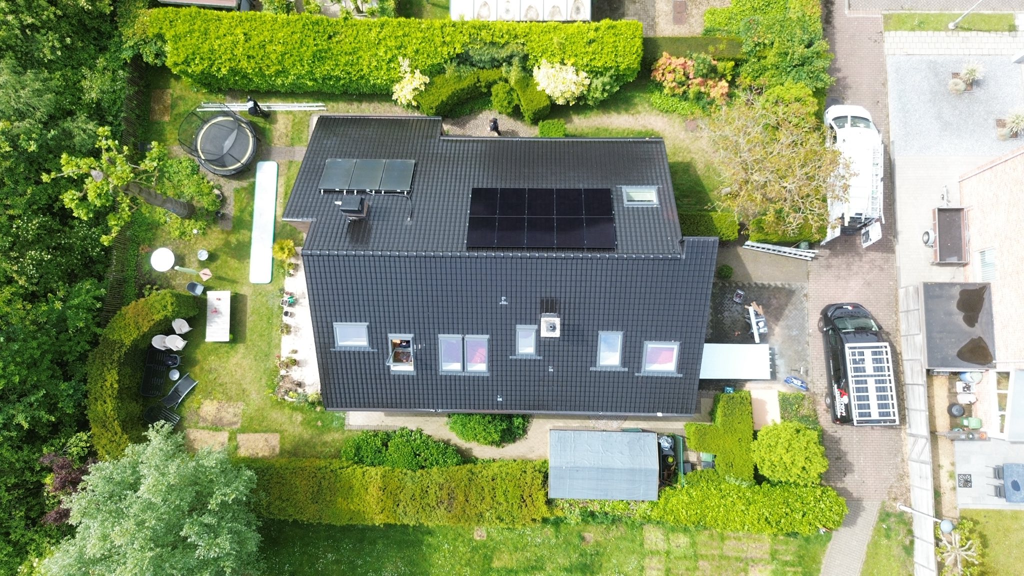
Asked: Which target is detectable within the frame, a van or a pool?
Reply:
van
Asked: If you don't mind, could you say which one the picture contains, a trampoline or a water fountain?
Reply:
trampoline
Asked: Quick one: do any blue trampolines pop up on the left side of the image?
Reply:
No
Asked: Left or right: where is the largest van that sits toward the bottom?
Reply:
right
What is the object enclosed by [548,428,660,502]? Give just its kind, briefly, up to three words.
shed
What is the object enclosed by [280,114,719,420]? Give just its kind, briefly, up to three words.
house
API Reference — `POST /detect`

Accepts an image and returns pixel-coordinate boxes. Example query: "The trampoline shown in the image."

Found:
[179,103,263,179]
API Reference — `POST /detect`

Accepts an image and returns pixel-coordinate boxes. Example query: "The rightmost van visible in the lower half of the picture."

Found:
[820,305,895,434]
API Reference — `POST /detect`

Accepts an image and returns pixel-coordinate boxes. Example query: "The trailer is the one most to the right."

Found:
[929,185,980,257]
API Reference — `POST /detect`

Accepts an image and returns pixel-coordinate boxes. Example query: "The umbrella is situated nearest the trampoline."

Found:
[177,265,212,281]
